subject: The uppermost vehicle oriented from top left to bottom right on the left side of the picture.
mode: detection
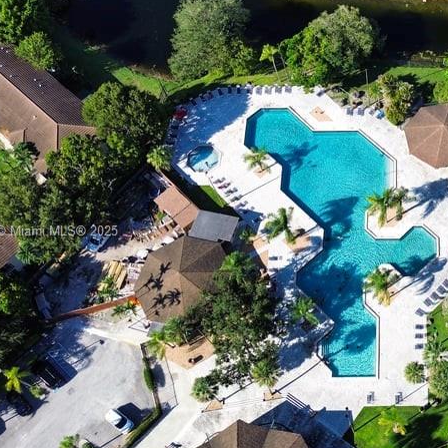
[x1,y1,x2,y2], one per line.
[29,356,62,391]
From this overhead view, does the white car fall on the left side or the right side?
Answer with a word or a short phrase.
left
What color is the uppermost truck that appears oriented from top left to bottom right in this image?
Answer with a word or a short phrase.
black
